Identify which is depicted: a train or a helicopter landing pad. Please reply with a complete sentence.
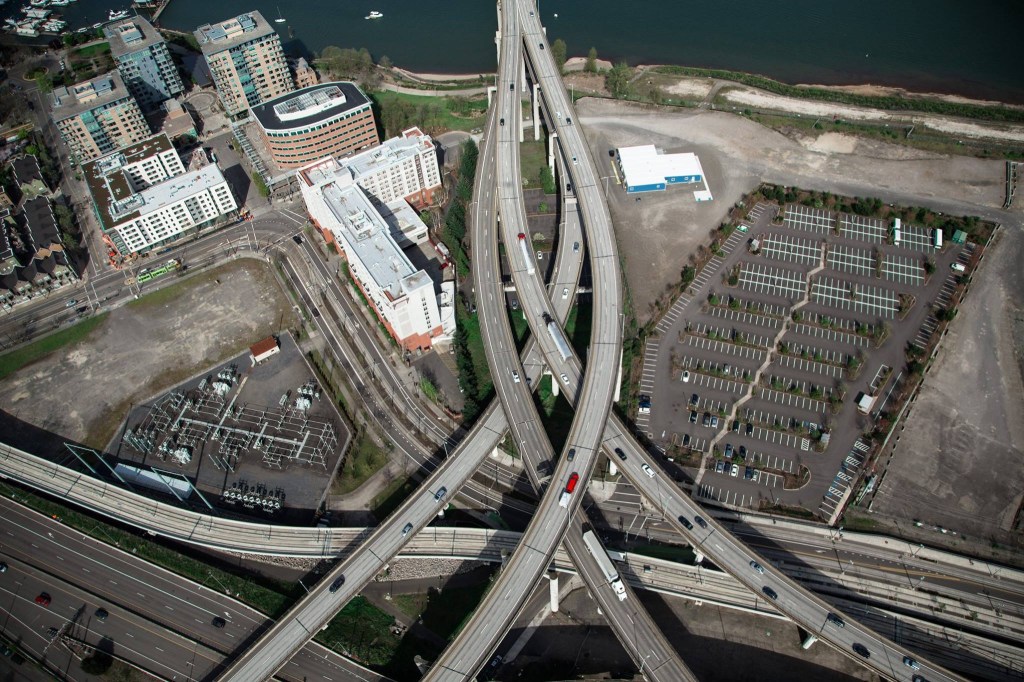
The image shows a train.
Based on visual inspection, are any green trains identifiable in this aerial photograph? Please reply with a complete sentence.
Yes, a green train is visible in the scene.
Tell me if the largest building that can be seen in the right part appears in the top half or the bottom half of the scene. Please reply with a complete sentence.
It is in the top half that the largest building that can be seen in the right part appears.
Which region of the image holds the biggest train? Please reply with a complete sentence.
You can find the biggest train in the left area of the picture.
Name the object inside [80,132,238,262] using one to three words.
building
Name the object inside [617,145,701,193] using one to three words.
building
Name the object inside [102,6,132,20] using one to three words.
boat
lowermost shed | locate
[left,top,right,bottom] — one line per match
[112,463,196,503]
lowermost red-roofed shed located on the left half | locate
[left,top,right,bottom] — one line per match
[249,336,280,361]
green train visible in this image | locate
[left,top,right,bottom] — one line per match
[136,260,180,284]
